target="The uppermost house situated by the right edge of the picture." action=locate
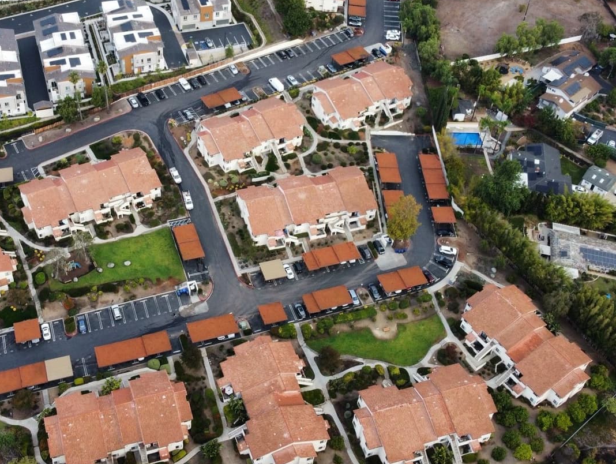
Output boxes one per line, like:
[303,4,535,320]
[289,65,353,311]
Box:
[524,44,593,82]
